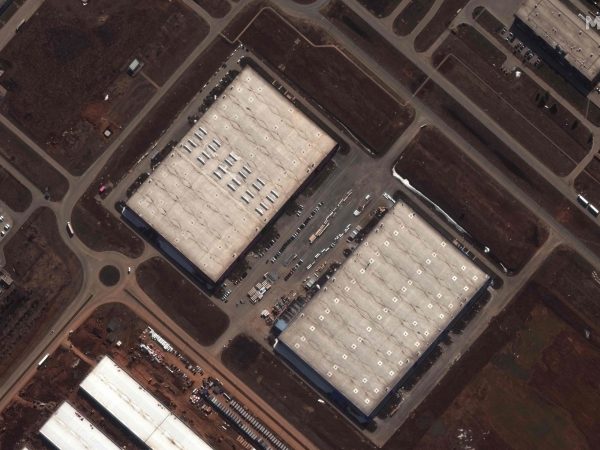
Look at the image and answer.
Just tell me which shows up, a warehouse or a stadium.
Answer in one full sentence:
Visible in the photo is a warehouse.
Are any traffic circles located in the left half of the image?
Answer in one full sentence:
Yes, a traffic circle can be seen in the left half of the image.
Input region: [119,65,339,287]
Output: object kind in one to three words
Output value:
warehouse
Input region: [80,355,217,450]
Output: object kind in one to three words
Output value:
shed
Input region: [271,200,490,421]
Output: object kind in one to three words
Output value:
warehouse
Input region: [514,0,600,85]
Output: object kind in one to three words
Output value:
building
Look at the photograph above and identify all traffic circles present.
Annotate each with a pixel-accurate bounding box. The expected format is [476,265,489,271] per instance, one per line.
[84,251,135,301]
